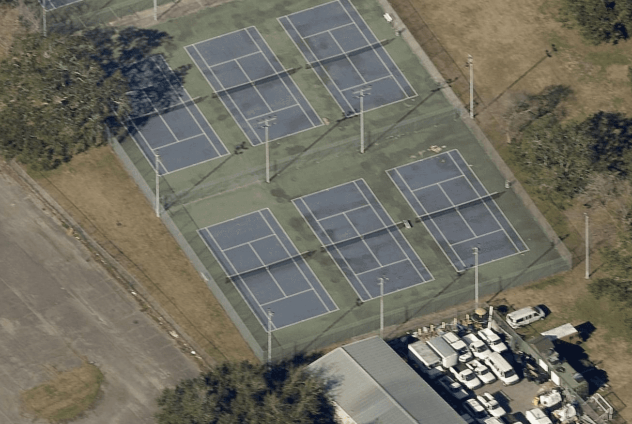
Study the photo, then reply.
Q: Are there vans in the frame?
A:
Yes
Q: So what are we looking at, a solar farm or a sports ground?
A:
sports ground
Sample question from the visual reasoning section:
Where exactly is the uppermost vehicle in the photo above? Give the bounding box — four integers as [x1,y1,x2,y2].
[500,305,550,331]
